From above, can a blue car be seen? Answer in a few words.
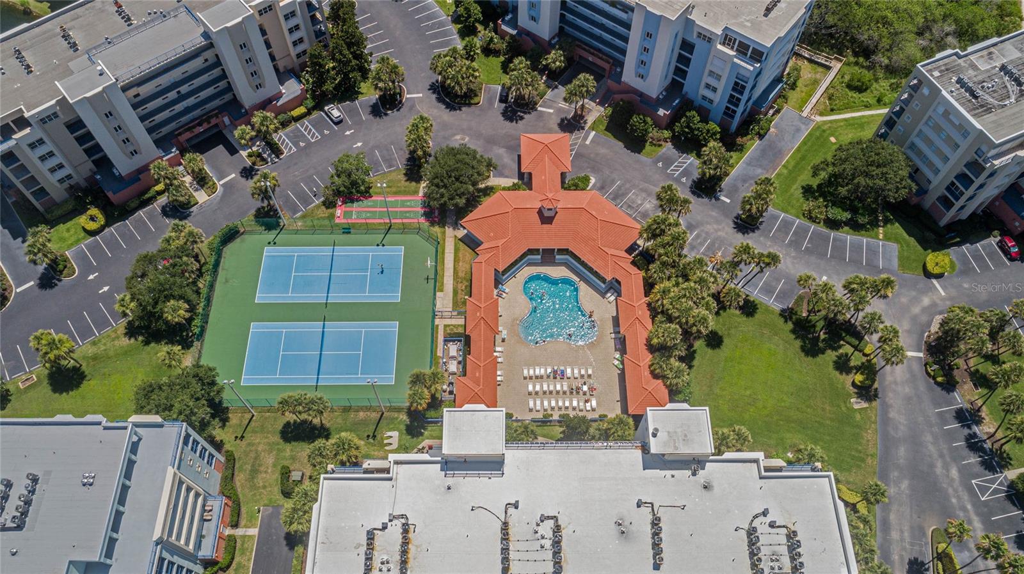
No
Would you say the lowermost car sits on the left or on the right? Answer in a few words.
right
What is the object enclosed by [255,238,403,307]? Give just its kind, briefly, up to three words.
tennis court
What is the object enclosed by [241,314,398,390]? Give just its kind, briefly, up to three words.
tennis court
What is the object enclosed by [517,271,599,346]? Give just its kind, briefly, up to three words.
swimming pool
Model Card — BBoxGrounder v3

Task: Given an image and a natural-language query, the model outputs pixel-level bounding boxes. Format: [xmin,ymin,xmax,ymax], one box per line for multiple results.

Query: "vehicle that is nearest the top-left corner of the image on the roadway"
[325,106,344,125]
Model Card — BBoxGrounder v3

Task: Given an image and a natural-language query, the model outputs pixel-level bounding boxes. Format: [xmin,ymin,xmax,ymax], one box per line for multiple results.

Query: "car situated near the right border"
[997,237,1023,262]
